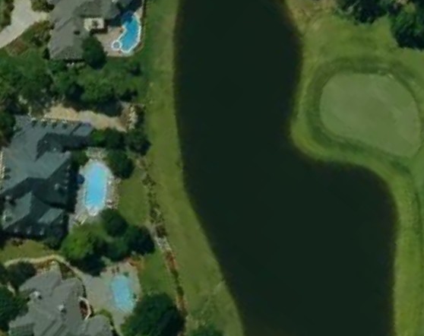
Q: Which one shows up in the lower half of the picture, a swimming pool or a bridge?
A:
swimming pool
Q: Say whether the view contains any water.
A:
Yes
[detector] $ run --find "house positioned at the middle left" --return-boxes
[0,114,91,237]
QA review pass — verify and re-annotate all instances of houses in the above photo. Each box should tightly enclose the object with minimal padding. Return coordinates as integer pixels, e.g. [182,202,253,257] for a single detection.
[45,0,141,59]
[0,114,91,237]
[6,258,114,336]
